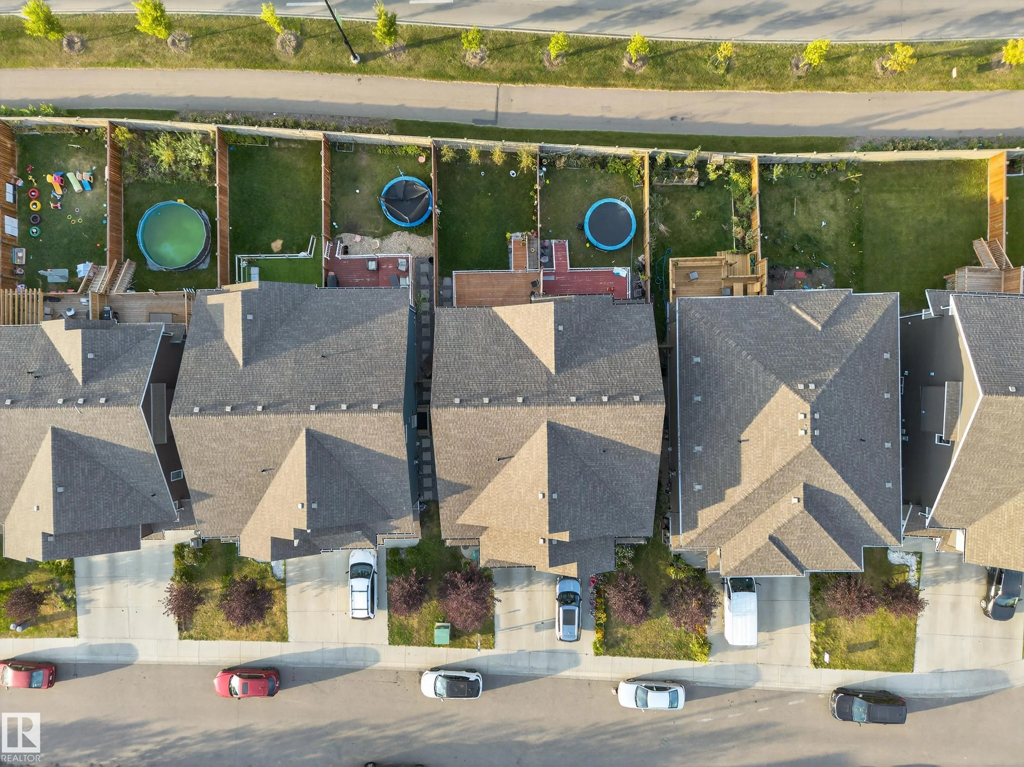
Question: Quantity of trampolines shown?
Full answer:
The photo contains 2 trampolines.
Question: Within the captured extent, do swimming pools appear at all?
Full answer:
Yes, a swimming pool appears in the view.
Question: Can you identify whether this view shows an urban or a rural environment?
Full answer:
The land in this view is best described as urban.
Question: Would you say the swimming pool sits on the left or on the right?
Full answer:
The swimming pool is on the left side of the image.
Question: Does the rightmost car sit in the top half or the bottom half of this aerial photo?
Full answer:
Seen from above, the rightmost car lies in the bottom half of the view.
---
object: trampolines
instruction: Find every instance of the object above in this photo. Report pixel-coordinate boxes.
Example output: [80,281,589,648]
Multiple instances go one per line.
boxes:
[584,196,636,252]
[377,172,433,229]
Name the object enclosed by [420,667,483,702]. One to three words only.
car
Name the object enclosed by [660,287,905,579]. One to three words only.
house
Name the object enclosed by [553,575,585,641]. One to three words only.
car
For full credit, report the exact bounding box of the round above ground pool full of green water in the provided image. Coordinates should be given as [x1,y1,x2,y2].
[136,199,215,273]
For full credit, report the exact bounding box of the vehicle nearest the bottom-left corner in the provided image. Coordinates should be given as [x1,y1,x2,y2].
[0,660,63,694]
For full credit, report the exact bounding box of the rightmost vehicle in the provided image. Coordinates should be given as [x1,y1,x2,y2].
[978,566,1020,621]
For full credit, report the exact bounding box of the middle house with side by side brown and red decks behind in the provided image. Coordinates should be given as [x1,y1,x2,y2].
[430,291,665,577]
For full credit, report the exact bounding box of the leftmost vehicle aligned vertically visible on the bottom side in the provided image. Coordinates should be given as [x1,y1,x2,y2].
[346,549,379,617]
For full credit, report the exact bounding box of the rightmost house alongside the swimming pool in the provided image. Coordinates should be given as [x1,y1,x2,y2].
[169,282,425,561]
